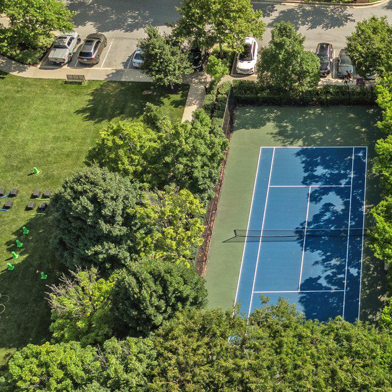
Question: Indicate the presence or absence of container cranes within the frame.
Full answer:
No, the picture doesn't show any container crane.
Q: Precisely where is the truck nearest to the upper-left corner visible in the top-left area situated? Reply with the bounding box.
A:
[47,27,81,63]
